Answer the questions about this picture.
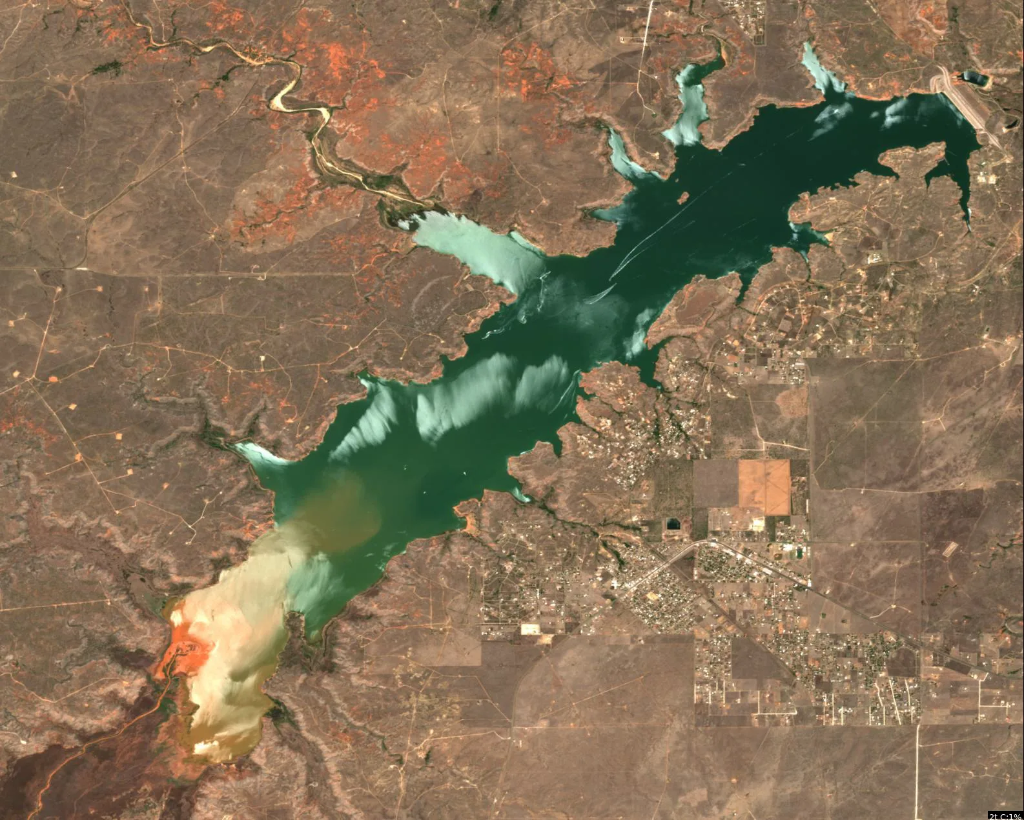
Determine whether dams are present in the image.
Yes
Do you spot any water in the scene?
Yes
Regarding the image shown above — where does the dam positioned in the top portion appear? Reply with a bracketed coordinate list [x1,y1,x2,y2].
[931,63,1008,159]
